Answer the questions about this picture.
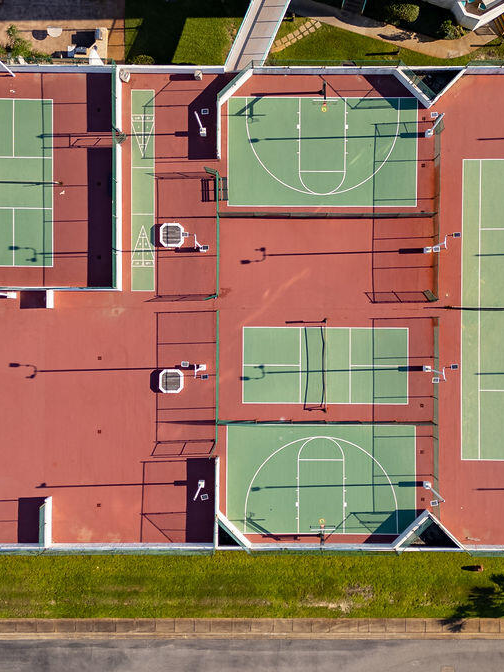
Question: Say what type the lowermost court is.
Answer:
basketball court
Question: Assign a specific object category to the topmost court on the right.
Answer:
basketball court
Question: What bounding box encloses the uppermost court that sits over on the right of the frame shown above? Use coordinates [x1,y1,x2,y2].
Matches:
[227,96,418,207]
